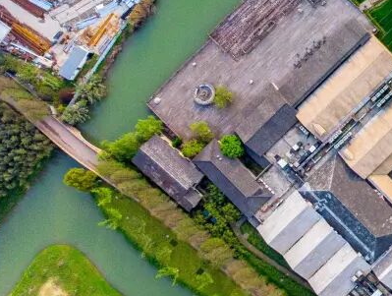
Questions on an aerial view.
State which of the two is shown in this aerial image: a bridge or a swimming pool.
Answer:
bridge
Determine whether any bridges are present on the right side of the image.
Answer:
No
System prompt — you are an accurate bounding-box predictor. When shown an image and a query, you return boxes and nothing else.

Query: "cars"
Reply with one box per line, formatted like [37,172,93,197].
[50,27,64,42]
